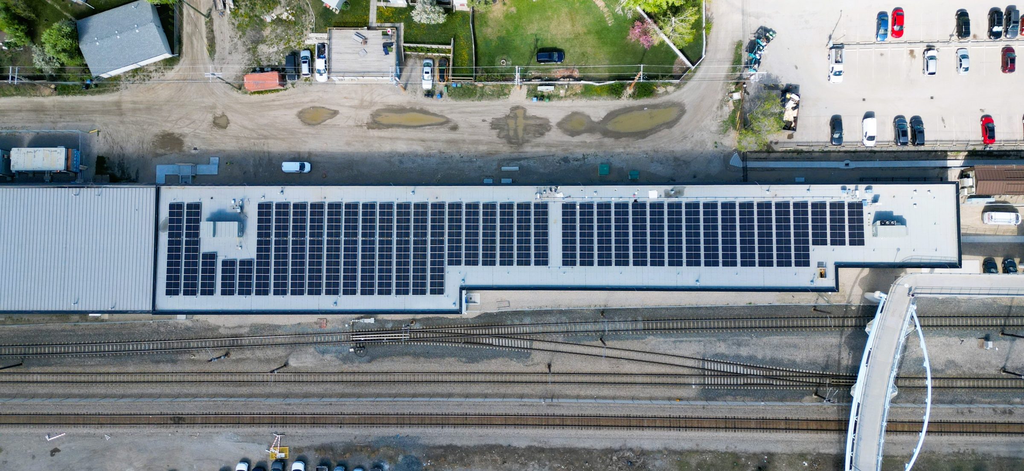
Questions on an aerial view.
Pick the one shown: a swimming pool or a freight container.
freight container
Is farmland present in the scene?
No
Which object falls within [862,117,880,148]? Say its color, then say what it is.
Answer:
white vehicle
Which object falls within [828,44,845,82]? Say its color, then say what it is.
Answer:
white vehicle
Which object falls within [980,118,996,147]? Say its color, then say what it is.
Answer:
red car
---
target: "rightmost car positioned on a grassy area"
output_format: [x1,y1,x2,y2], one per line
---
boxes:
[537,50,565,64]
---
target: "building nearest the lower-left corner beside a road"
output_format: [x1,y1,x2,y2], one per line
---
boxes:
[0,183,157,314]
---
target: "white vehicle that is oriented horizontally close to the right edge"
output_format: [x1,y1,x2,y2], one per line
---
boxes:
[982,210,1023,225]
